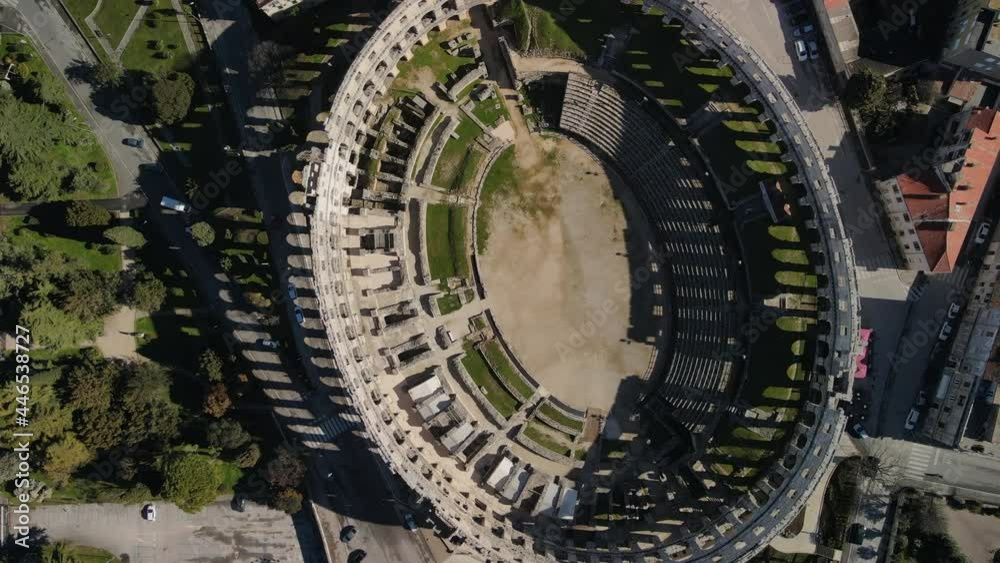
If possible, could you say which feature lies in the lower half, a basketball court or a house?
house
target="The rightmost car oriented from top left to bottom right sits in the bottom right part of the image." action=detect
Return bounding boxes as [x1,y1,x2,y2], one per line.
[851,422,869,439]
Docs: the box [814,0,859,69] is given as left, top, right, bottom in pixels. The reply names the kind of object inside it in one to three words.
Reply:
house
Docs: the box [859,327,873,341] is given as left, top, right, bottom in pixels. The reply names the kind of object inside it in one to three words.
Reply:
umbrella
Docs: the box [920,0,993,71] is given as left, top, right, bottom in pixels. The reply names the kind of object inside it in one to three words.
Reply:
building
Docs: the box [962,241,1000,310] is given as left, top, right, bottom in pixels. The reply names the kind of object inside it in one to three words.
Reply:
house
